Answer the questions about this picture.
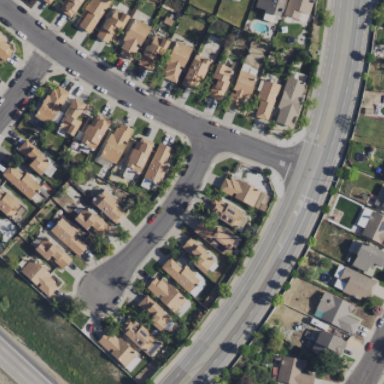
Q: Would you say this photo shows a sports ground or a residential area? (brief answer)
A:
residential area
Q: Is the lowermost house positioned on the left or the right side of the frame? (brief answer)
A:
right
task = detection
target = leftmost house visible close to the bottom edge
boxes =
[96,329,141,371]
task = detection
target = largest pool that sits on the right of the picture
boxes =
[252,22,270,34]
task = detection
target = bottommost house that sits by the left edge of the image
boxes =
[16,258,60,300]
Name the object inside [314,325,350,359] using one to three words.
house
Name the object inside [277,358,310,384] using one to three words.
house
